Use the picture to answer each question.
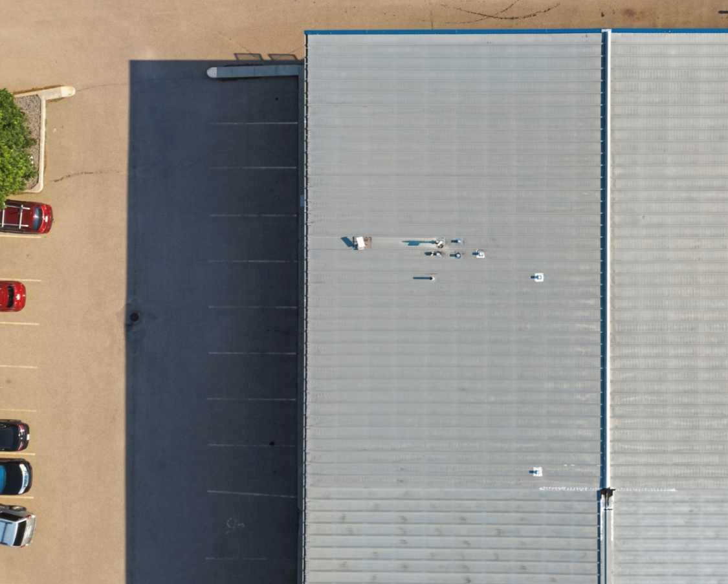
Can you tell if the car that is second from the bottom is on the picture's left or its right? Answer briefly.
left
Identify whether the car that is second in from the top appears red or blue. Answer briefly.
red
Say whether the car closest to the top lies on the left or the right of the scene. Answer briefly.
left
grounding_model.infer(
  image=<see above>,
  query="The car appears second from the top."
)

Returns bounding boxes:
[0,281,28,312]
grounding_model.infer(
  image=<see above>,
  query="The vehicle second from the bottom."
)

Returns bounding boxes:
[0,459,35,494]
